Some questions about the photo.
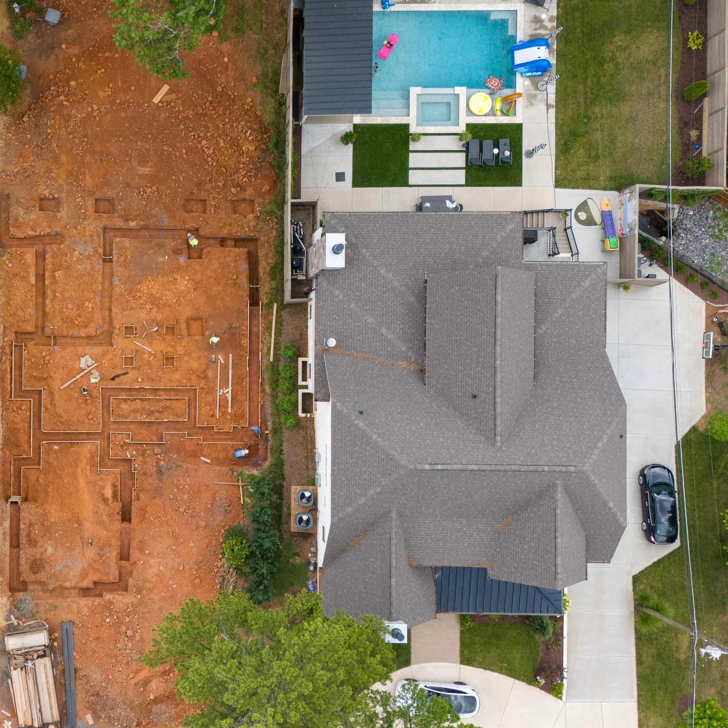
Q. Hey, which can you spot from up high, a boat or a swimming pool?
swimming pool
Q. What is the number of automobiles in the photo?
2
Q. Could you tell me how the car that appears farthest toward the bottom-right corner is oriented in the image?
up and down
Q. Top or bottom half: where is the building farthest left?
top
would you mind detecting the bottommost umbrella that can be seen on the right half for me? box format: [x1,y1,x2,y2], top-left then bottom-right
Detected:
[524,142,550,158]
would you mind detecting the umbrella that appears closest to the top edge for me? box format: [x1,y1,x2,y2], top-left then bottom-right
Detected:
[543,21,570,42]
